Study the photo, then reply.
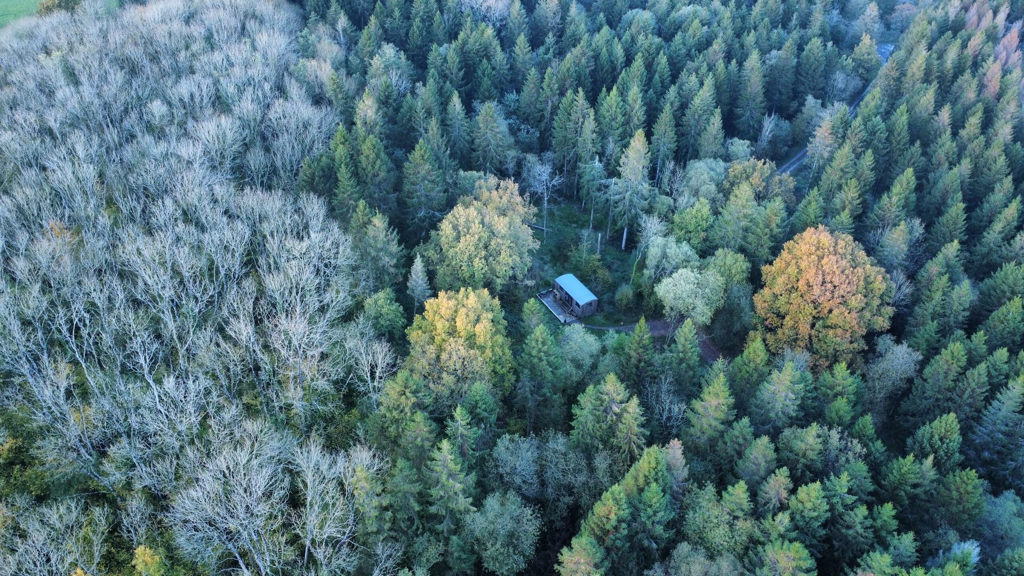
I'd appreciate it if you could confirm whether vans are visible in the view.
No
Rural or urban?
rural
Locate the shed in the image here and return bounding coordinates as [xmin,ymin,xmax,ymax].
[554,272,598,318]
